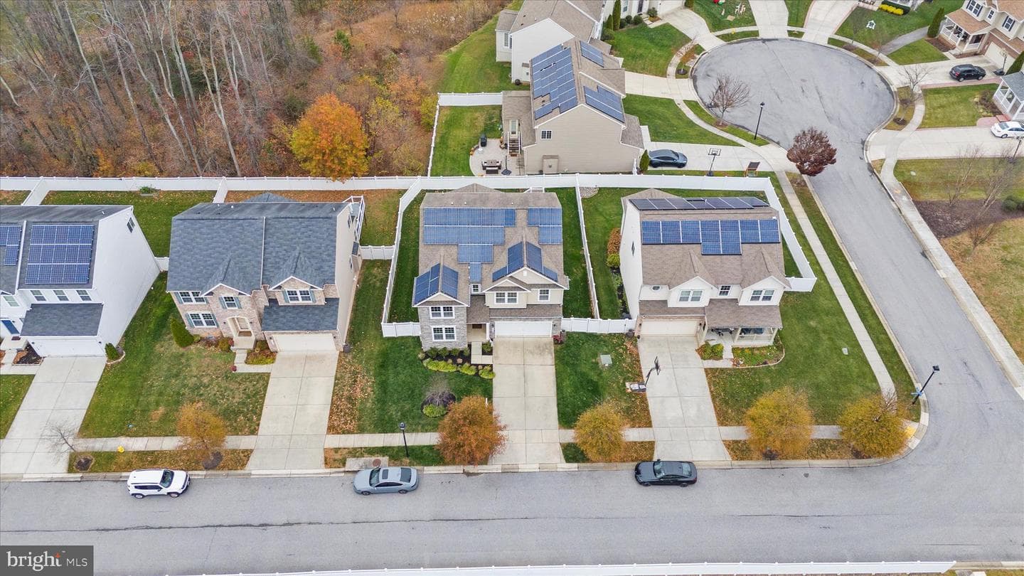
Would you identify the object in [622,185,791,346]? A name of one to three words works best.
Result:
house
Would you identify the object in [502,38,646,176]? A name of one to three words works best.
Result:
house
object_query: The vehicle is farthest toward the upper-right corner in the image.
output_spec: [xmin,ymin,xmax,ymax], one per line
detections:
[950,57,990,79]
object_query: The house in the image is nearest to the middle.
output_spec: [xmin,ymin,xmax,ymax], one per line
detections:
[411,176,568,350]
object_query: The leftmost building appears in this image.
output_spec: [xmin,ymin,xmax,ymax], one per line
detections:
[0,206,156,355]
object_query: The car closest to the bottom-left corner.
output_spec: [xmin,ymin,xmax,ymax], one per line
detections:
[125,468,187,498]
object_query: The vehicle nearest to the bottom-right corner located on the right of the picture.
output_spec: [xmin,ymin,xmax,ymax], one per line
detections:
[636,457,699,486]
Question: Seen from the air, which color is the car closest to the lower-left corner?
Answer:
white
